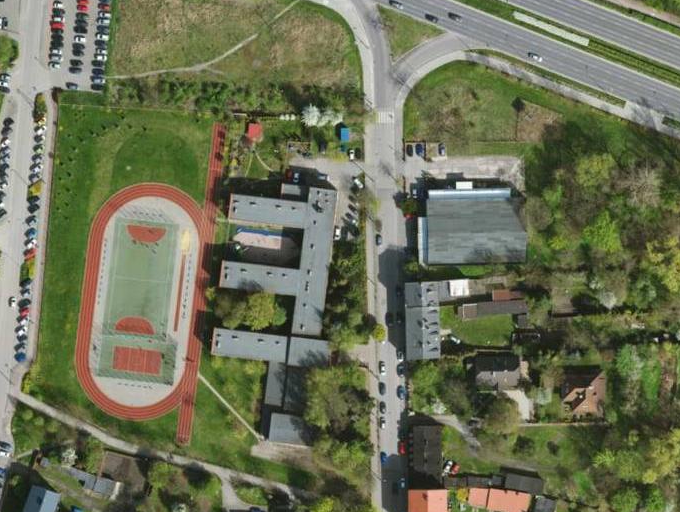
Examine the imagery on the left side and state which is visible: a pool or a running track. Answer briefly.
running track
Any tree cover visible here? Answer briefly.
Yes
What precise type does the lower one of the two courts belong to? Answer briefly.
basketball court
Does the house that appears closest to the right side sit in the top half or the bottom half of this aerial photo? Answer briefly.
bottom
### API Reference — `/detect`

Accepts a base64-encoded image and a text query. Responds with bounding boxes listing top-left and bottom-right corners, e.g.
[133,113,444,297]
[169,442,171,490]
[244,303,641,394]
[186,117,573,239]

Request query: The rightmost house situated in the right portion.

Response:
[561,365,605,420]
